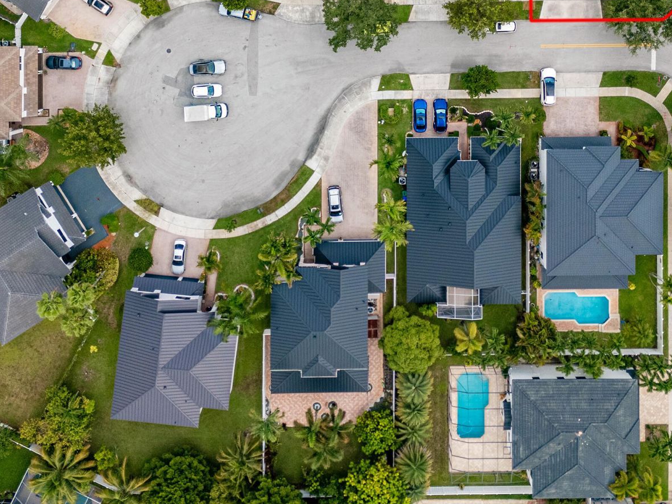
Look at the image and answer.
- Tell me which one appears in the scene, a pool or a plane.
pool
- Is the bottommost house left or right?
right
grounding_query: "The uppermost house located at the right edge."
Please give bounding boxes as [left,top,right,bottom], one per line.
[539,136,663,290]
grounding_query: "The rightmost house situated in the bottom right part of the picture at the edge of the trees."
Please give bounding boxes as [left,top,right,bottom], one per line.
[499,368,640,500]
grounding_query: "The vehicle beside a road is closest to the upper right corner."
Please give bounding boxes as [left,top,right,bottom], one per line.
[539,70,557,105]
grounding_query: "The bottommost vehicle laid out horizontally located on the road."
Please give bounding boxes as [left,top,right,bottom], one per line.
[182,103,229,122]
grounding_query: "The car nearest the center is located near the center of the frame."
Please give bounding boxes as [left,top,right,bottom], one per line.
[327,186,343,221]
